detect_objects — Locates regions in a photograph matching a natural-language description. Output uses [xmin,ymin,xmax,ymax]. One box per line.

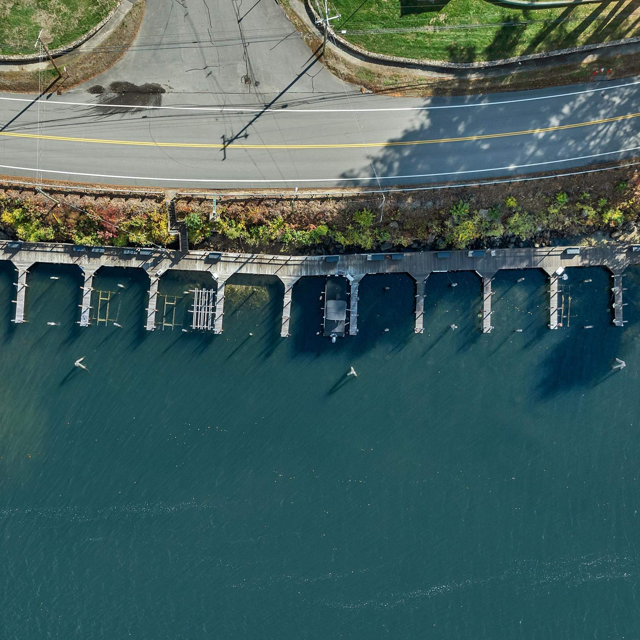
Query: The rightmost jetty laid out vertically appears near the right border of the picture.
[605,264,629,327]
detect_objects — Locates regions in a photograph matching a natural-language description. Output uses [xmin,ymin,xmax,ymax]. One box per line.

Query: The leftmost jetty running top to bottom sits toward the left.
[10,261,36,323]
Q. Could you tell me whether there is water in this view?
Yes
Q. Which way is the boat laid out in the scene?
up and down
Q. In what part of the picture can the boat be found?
center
